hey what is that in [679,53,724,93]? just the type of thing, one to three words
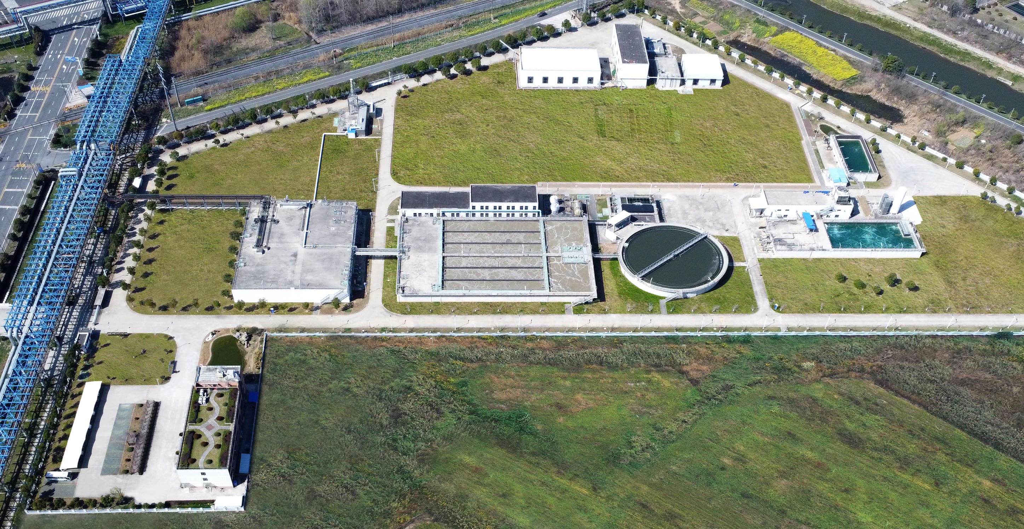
building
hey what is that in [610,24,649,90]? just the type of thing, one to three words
building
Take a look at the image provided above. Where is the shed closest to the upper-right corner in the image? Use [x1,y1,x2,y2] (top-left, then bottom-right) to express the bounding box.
[828,168,848,188]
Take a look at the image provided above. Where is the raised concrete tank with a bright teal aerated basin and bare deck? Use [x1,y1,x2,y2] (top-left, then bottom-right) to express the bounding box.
[765,217,924,260]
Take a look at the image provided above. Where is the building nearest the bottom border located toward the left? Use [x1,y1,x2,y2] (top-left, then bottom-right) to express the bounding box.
[214,496,243,508]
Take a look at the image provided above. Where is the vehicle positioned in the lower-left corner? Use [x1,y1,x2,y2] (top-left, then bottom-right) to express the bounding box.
[42,470,76,484]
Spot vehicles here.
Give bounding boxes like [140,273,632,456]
[537,10,548,16]
[42,470,76,484]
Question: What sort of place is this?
industrial area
